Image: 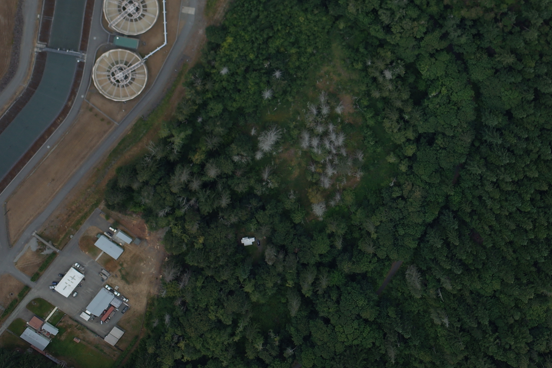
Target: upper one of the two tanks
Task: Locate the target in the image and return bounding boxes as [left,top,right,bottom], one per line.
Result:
[103,0,161,37]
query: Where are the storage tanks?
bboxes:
[92,48,150,102]
[103,0,161,37]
